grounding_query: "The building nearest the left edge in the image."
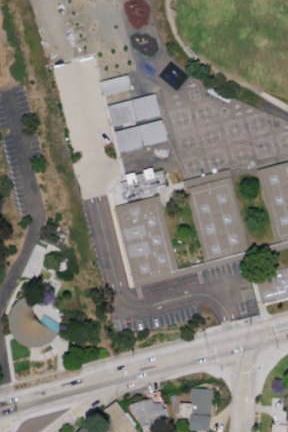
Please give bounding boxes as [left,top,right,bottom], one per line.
[8,300,60,348]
